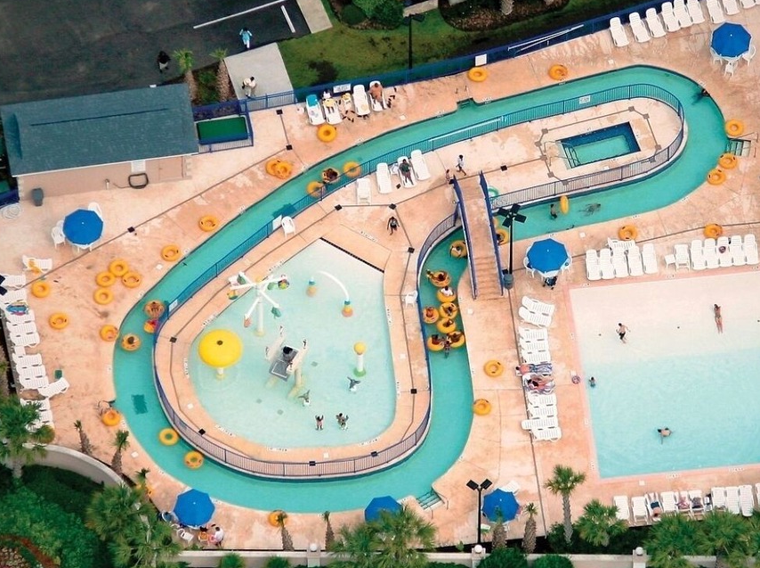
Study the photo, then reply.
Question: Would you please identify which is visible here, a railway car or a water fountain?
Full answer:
The image shows a water fountain.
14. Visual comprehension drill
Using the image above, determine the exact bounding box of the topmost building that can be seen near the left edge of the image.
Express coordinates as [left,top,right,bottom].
[0,84,198,200]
